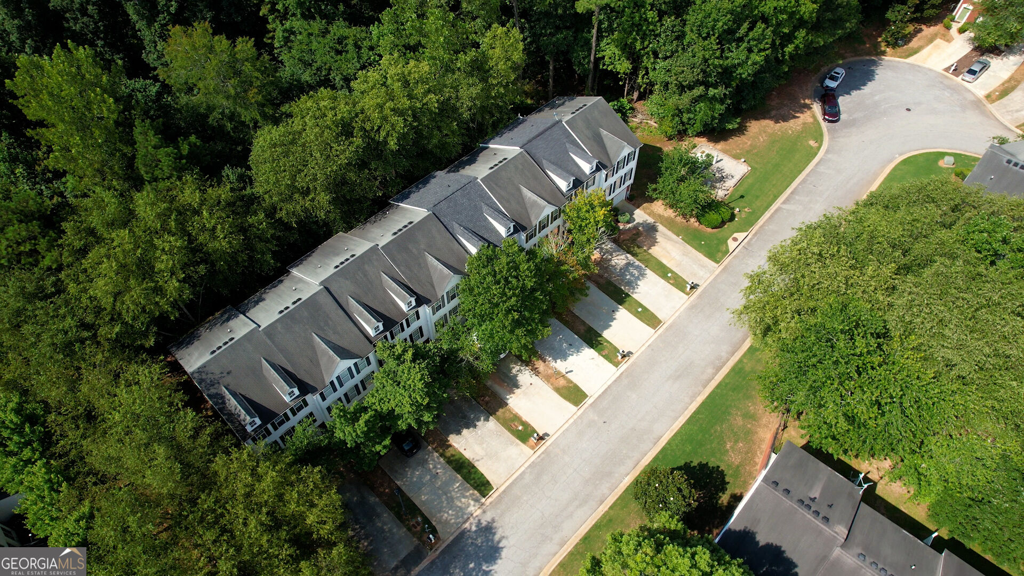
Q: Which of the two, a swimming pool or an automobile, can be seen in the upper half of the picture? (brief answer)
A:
automobile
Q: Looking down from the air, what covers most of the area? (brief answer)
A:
trees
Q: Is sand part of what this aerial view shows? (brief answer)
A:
No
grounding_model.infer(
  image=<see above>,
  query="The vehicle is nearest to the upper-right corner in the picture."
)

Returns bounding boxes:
[965,61,990,82]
